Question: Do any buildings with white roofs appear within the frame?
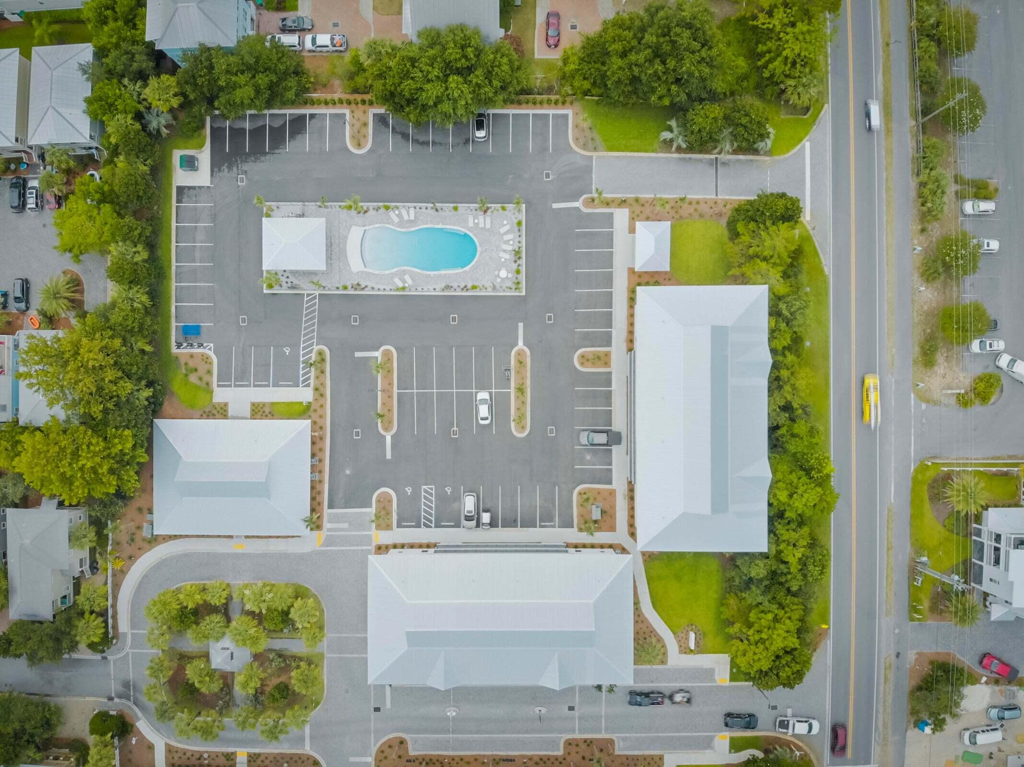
Yes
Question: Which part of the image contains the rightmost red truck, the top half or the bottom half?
bottom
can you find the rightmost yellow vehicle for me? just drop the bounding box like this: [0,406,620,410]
[861,374,885,427]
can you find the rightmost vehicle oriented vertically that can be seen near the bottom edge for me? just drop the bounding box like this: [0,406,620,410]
[830,722,849,760]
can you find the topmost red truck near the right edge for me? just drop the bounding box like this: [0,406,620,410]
[976,651,1024,684]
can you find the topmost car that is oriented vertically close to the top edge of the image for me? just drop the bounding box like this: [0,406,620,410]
[545,10,561,48]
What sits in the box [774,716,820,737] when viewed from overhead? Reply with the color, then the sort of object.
white truck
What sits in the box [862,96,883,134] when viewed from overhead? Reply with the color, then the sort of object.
white vehicle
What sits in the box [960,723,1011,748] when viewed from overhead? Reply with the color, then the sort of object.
white vehicle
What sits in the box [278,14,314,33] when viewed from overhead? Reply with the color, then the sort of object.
gray car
